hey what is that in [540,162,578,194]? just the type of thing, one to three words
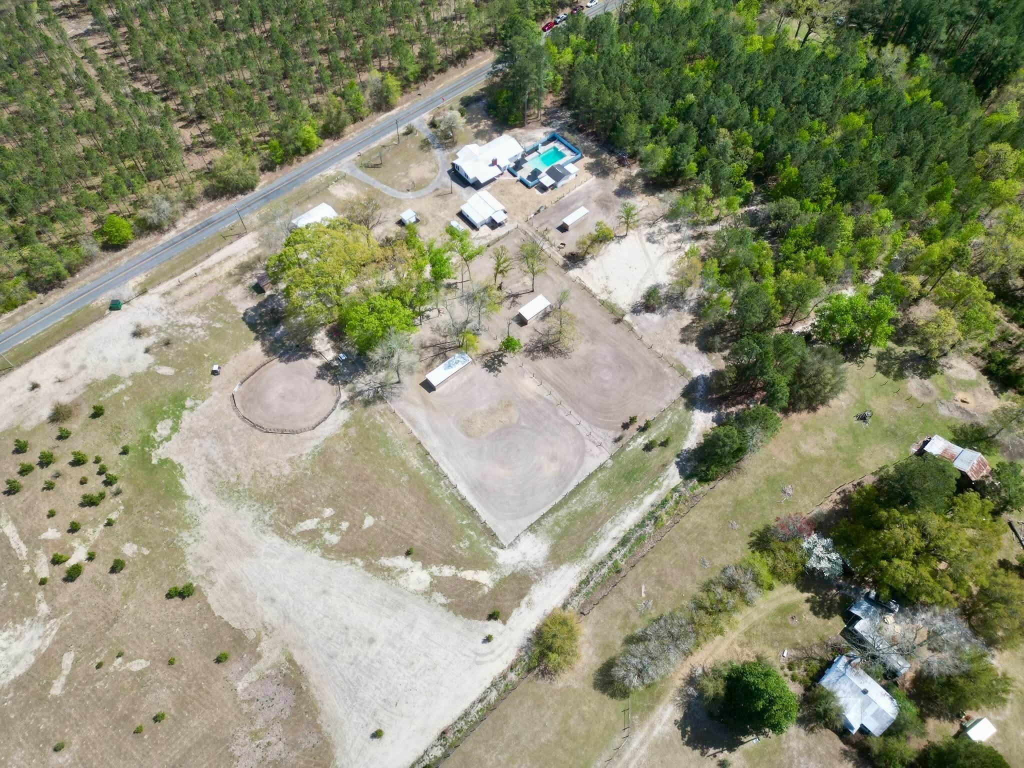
shed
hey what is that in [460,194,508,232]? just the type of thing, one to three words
house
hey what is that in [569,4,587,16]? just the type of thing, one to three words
vehicle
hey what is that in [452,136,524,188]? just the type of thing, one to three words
house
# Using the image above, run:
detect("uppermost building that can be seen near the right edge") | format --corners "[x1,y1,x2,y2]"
[921,434,990,484]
